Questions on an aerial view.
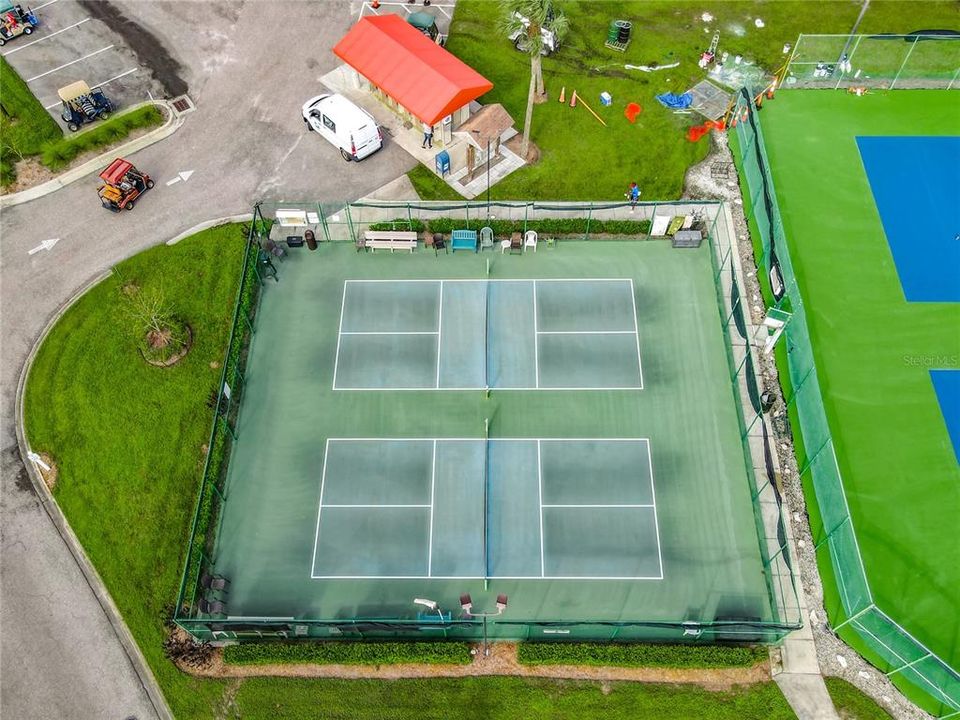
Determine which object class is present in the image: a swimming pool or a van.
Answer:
van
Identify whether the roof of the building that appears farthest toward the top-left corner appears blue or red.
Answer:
red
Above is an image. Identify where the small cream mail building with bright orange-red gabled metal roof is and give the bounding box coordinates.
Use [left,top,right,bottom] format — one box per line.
[334,13,493,149]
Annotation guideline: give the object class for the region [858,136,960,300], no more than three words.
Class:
tennis court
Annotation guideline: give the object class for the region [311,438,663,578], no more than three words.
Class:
sports court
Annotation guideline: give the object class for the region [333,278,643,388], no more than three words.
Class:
sports court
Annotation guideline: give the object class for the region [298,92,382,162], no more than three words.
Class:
van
